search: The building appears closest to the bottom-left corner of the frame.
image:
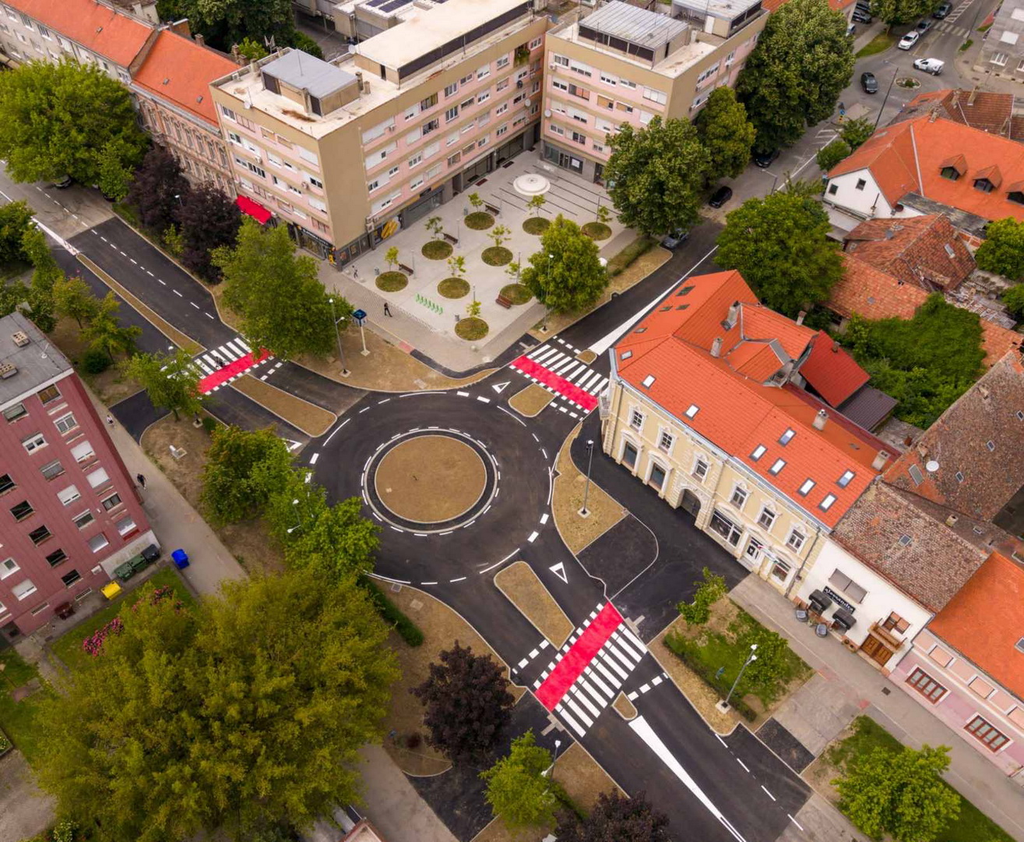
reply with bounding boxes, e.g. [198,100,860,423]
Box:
[0,295,162,666]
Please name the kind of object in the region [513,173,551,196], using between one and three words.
fountain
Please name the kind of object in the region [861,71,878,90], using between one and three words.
car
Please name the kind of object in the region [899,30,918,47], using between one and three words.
car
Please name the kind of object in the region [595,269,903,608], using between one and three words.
house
